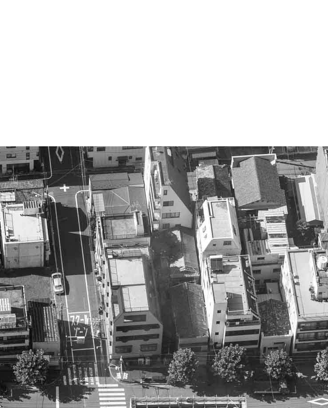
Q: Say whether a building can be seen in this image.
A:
Yes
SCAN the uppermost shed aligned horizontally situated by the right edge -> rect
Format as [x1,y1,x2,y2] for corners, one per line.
[231,144,316,169]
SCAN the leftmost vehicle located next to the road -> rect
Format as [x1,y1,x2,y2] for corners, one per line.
[51,272,64,296]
